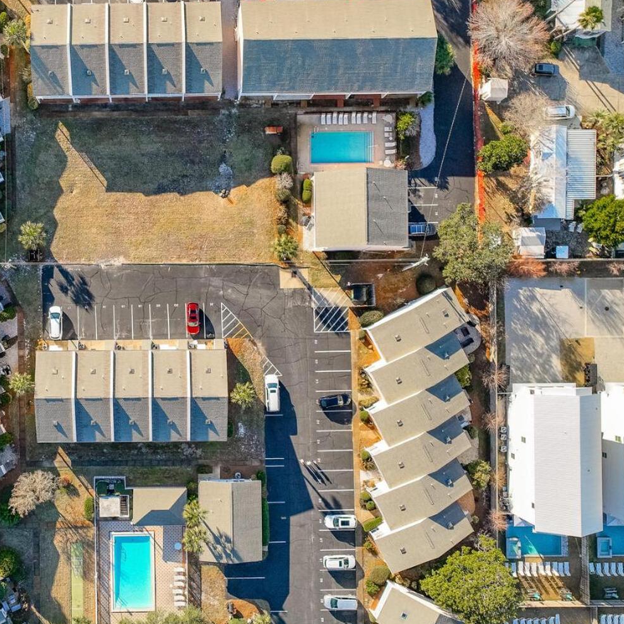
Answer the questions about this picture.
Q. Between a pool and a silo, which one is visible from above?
pool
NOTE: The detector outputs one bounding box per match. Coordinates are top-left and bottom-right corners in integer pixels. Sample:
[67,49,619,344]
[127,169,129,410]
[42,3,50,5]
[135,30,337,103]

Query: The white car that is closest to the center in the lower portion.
[265,374,281,412]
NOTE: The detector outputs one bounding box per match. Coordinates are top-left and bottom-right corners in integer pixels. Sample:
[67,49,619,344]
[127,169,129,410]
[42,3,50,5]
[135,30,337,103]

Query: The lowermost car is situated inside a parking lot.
[323,594,358,612]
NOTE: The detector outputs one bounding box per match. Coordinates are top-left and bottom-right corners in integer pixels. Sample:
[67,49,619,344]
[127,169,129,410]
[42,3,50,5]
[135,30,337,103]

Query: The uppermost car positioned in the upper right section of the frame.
[531,61,559,77]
